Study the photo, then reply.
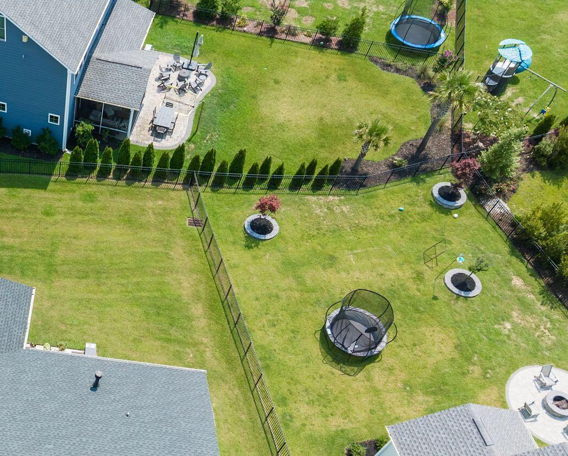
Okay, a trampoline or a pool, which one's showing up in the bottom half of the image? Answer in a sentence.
There is a trampoline in the bottom half of the image.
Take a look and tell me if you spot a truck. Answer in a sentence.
No, no truck is visible in the view.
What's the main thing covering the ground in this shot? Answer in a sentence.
For the most part, this view shows grass.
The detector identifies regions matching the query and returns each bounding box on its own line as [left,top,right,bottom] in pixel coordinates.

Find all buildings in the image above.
[0,278,220,456]
[0,0,159,153]
[375,403,568,456]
